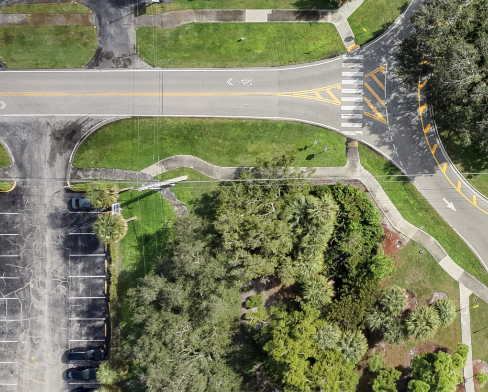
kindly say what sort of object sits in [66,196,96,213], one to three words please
car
